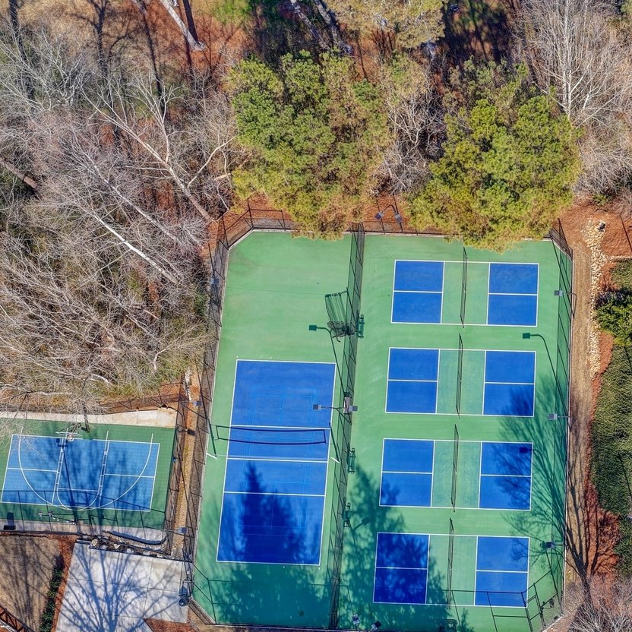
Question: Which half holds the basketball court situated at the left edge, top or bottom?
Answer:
bottom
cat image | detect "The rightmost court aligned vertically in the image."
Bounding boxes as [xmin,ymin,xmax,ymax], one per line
[194,230,365,628]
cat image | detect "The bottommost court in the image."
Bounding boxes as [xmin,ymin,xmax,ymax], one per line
[337,518,564,632]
